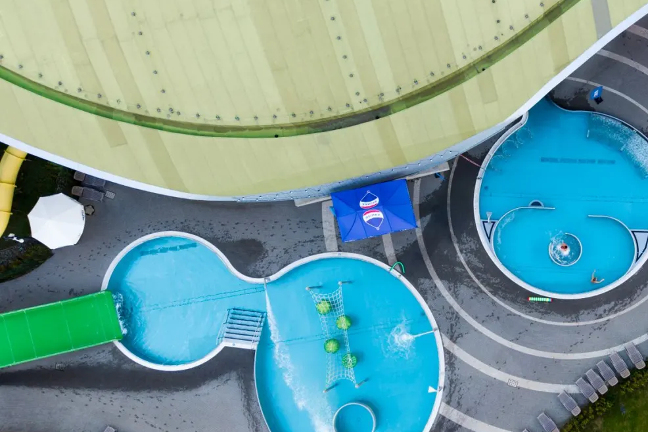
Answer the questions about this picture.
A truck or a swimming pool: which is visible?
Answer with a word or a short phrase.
swimming pool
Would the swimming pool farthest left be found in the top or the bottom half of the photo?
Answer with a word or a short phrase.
bottom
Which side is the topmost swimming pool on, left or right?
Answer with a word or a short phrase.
right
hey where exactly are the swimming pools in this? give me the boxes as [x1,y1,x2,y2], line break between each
[103,231,446,432]
[473,92,648,300]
